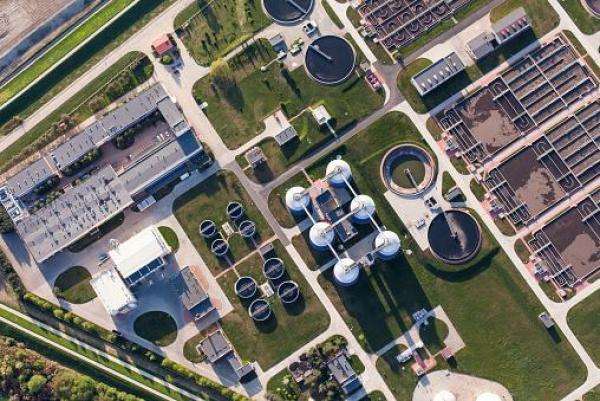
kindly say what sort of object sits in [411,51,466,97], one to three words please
house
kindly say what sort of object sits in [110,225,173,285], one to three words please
building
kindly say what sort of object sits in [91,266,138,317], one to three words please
shed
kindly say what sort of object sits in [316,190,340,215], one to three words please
building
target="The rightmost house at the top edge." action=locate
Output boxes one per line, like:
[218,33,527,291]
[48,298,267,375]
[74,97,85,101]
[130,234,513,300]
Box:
[489,8,532,46]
